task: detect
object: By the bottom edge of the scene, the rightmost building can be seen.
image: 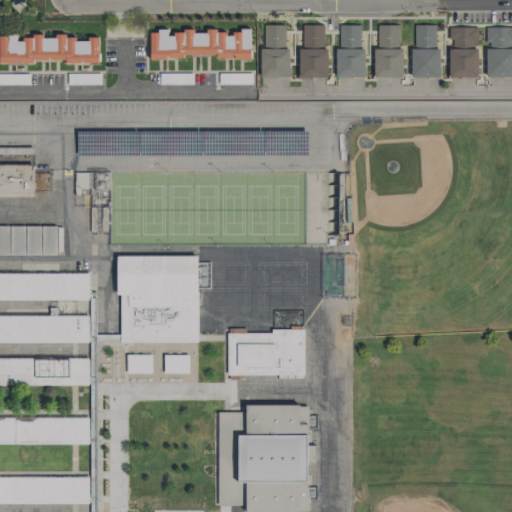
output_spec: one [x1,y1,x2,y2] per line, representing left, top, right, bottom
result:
[219,405,316,512]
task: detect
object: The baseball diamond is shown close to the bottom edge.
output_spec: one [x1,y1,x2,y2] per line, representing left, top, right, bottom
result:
[353,332,512,512]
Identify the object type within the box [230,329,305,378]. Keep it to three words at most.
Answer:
building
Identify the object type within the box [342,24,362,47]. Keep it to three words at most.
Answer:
house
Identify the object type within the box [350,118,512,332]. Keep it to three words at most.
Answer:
baseball field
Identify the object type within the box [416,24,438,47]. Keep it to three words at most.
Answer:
house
